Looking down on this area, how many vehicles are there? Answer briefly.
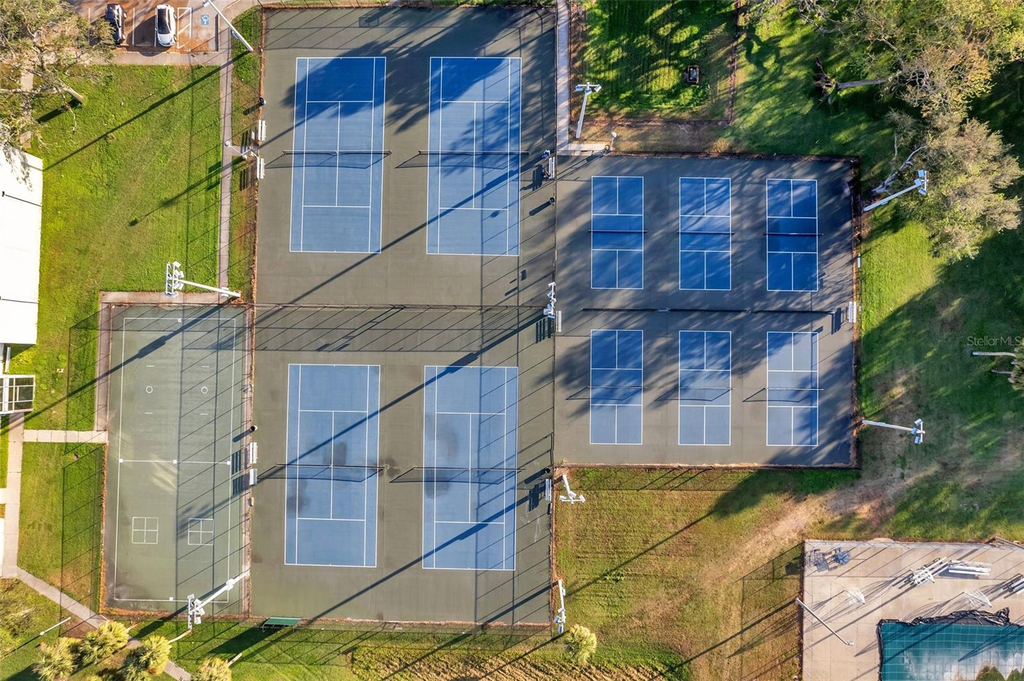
2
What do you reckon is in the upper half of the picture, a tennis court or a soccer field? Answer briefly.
tennis court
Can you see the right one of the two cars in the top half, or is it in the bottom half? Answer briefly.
top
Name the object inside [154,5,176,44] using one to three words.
car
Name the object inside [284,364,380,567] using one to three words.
tennis court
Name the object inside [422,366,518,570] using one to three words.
tennis court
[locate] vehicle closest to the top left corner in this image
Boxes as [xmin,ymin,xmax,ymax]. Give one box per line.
[107,4,129,44]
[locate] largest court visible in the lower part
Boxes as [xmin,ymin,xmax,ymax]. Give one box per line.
[103,307,243,612]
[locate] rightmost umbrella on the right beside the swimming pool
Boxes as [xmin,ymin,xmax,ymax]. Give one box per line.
[963,588,994,616]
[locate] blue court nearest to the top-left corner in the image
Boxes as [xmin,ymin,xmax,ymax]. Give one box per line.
[290,56,386,253]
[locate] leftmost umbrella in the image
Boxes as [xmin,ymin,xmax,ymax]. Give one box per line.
[842,585,870,613]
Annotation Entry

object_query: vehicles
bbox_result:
[107,4,129,44]
[154,5,176,44]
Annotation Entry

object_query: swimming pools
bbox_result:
[883,624,1024,681]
